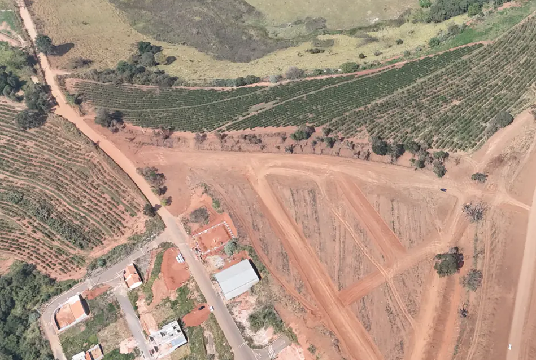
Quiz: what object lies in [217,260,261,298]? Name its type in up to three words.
building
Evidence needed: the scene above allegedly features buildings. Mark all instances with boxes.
[55,294,90,332]
[120,264,146,293]
[69,348,106,360]
[217,260,261,298]
[149,321,190,360]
